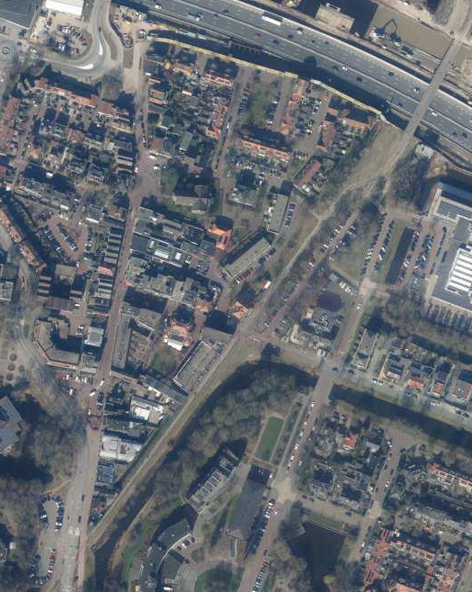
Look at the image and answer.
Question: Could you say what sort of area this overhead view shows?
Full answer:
What you see here is a residential area.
